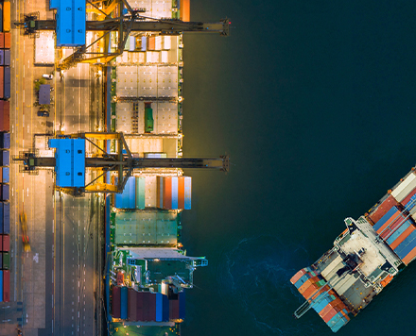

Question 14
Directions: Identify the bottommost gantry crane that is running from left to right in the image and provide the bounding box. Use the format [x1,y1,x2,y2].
[14,125,230,202]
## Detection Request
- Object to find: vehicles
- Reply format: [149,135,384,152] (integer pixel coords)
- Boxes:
[20,214,32,253]
[42,74,53,80]
[38,112,49,117]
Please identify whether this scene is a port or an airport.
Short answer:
port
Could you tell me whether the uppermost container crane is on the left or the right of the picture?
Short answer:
left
